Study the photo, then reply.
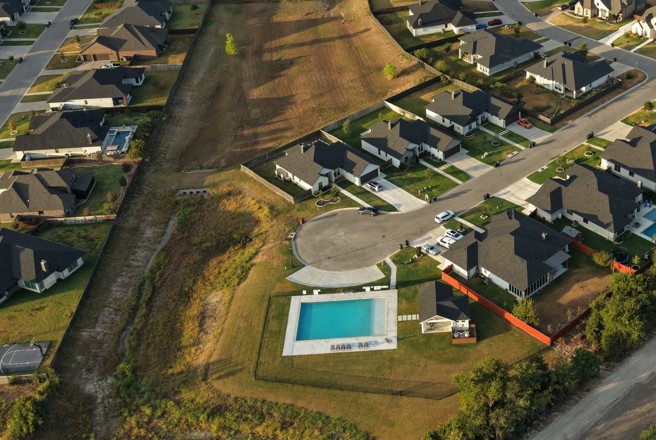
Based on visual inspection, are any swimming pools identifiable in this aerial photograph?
Yes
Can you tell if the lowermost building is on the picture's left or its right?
right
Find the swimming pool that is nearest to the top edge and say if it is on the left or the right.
left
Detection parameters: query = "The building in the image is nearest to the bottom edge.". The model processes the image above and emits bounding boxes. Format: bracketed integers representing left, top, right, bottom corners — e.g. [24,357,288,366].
[419,277,472,334]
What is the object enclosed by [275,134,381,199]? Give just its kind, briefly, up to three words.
house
